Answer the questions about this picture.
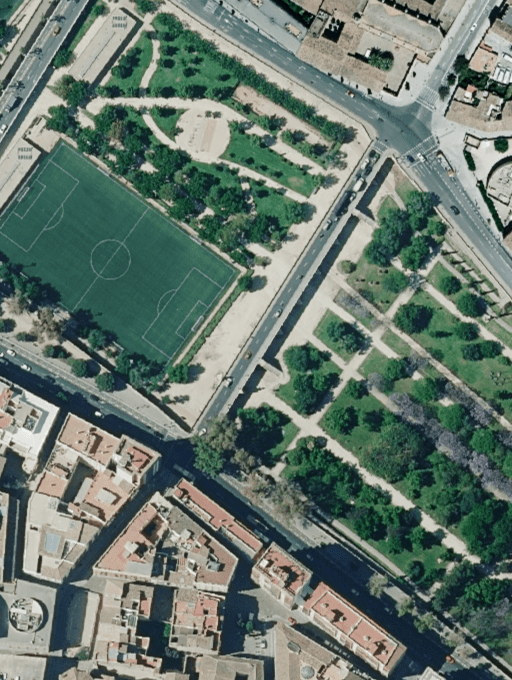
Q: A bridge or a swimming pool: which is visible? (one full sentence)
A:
It is a bridge that can be seen here.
